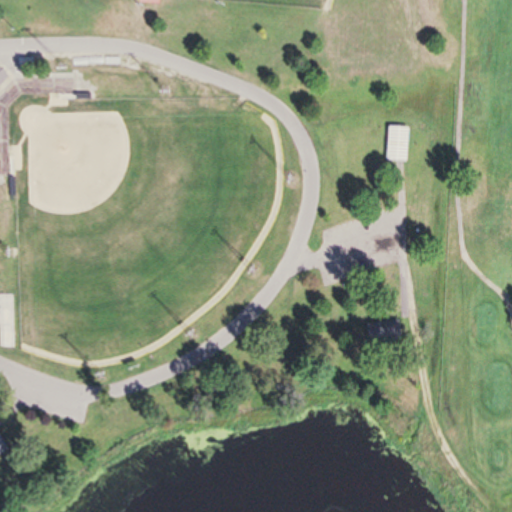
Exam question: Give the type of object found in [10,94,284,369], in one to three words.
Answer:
baseball field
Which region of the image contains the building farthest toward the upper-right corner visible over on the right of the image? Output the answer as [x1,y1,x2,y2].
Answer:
[386,124,410,162]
